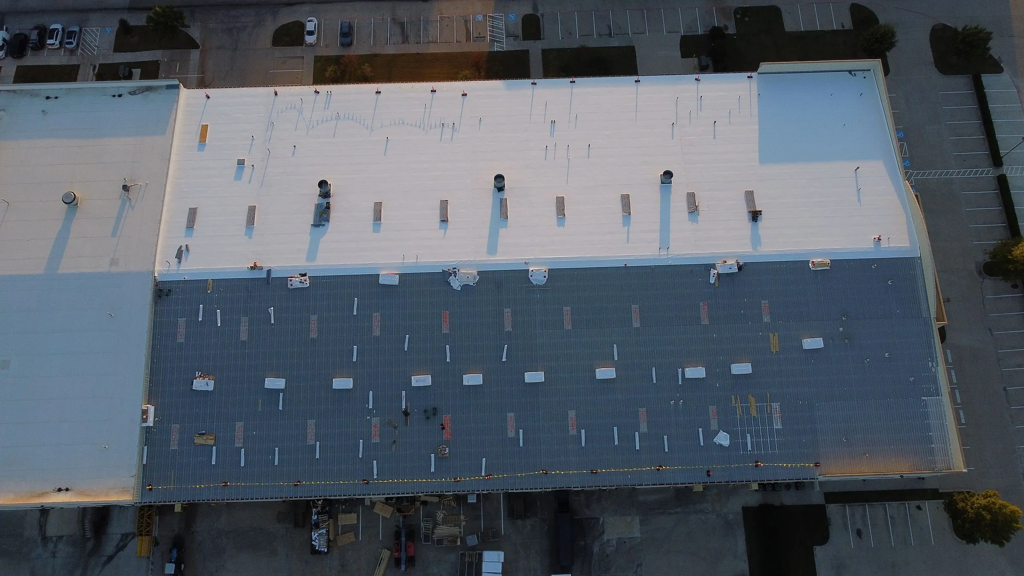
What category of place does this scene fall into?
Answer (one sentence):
The area seen from above is an industrial area.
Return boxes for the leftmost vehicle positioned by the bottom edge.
[159,545,183,575]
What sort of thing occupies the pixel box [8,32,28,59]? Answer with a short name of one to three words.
car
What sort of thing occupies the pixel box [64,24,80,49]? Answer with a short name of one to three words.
car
